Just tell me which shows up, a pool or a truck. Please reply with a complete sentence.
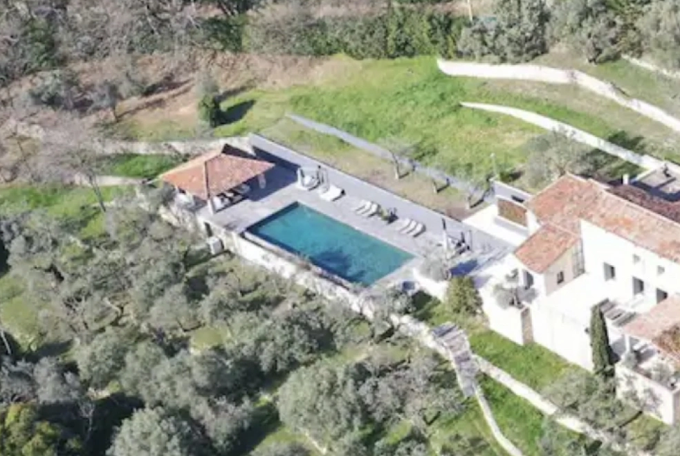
Of the two, only a pool appears.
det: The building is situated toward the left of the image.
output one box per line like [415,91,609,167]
[162,142,276,224]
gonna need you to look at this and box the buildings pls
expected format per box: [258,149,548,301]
[515,171,680,370]
[162,142,276,224]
